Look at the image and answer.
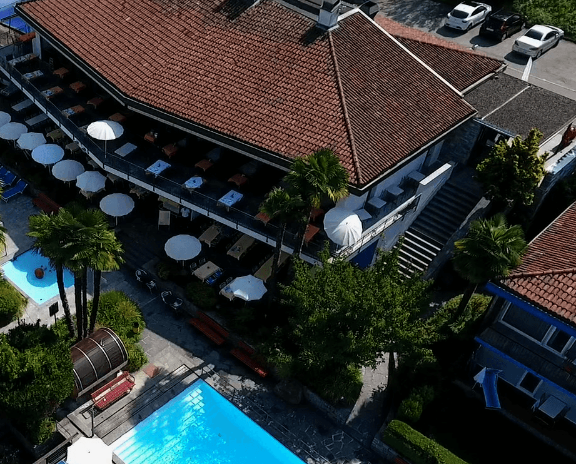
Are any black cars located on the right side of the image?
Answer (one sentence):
Yes, on the right side of the image there is a black car.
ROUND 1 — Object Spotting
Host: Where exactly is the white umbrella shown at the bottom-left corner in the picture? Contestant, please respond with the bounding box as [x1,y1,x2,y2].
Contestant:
[66,435,115,464]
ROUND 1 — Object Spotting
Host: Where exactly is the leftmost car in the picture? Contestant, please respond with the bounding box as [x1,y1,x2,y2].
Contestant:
[443,6,492,36]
